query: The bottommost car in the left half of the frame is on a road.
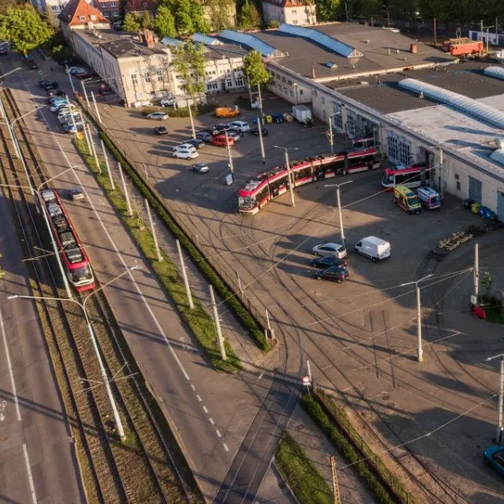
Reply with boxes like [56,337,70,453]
[69,184,84,197]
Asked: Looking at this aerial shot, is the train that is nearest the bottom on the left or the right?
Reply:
left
